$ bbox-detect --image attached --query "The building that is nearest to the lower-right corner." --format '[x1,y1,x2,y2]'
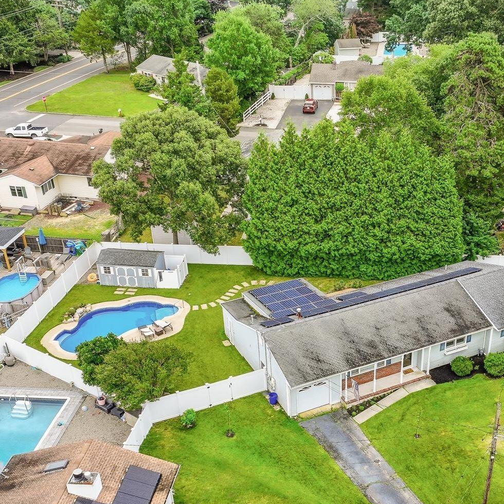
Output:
[220,261,504,418]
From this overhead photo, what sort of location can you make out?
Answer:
residential area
